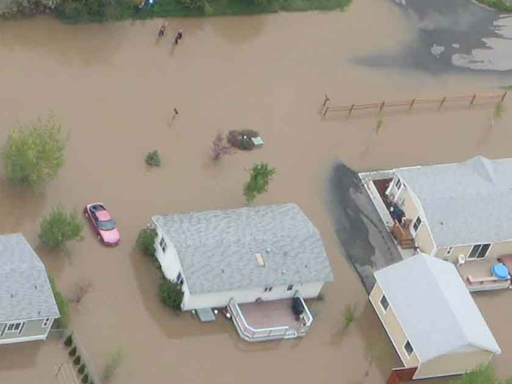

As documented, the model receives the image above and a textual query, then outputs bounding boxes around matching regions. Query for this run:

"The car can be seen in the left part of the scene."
[77,203,125,253]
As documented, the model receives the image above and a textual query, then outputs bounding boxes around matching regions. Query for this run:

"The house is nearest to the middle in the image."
[152,204,333,310]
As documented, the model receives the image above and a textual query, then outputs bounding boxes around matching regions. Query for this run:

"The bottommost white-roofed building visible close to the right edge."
[369,258,502,378]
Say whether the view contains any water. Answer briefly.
Yes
